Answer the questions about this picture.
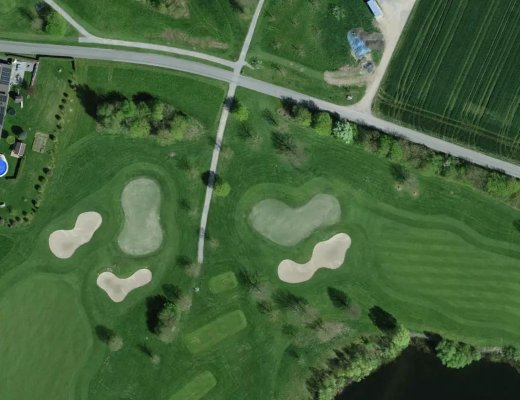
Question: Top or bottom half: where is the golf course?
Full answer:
You can find the golf course in the bottom half.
